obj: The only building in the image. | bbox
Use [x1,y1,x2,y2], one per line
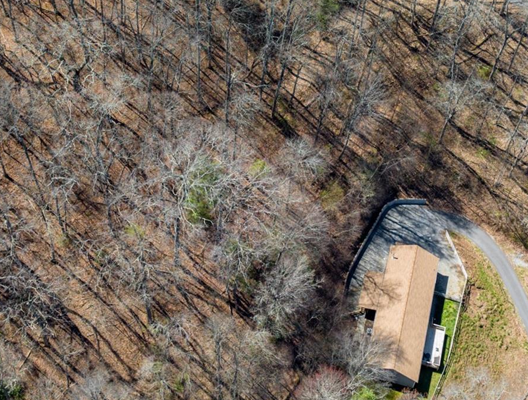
[359,245,447,393]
